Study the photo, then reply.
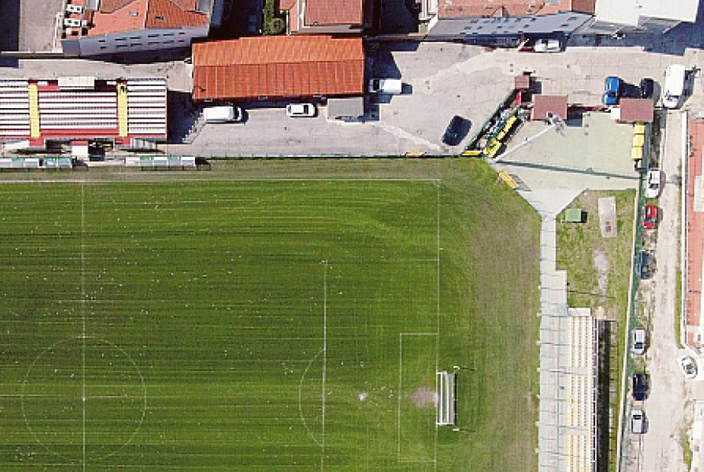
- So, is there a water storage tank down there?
No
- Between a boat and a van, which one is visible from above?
van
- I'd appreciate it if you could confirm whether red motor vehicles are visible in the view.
Yes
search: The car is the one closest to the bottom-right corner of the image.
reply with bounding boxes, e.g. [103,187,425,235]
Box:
[629,409,646,434]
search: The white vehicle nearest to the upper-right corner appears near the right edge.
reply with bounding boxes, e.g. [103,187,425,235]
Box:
[659,61,687,111]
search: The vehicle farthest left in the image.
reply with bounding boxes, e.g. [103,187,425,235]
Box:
[201,105,243,124]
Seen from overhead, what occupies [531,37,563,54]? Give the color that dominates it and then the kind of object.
white car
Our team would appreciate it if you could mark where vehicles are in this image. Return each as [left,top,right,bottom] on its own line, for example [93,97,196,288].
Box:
[637,75,655,99]
[629,329,647,355]
[659,61,687,111]
[631,373,648,400]
[369,77,404,95]
[636,250,654,279]
[444,116,468,147]
[201,105,243,124]
[643,168,662,198]
[642,203,660,231]
[531,37,563,54]
[604,74,622,103]
[629,409,646,434]
[286,104,316,118]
